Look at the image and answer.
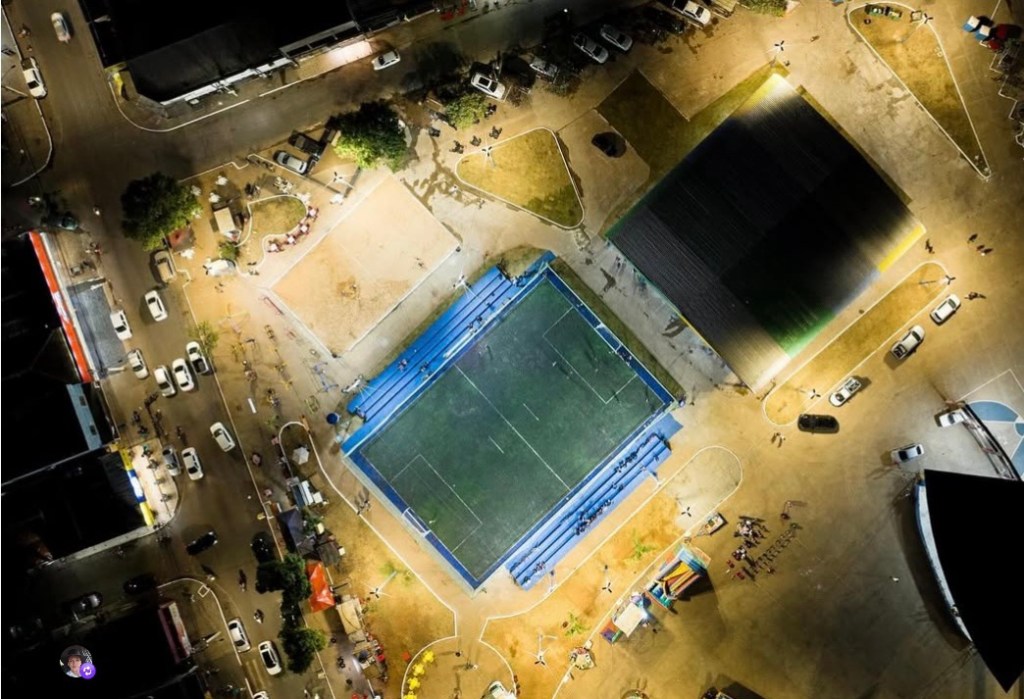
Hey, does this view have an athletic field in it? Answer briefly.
Yes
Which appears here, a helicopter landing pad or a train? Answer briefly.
train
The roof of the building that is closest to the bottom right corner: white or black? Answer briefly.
black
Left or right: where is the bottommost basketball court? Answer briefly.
right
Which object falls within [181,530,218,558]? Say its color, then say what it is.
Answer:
black car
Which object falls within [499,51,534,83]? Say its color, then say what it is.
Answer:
black car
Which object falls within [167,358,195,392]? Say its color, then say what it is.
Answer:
white car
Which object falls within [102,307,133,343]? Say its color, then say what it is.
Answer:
white car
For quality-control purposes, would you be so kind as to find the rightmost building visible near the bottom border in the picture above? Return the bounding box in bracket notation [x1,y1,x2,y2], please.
[907,470,1024,692]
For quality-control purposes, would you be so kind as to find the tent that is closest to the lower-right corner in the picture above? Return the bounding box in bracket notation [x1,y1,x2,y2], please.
[610,600,648,639]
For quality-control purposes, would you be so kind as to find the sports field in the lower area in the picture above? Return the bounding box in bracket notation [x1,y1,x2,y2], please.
[340,262,679,596]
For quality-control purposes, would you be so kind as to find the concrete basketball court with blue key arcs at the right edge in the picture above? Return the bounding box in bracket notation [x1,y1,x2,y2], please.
[956,368,1024,485]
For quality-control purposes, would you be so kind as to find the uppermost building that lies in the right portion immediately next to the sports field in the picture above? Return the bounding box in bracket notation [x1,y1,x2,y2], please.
[604,73,925,394]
